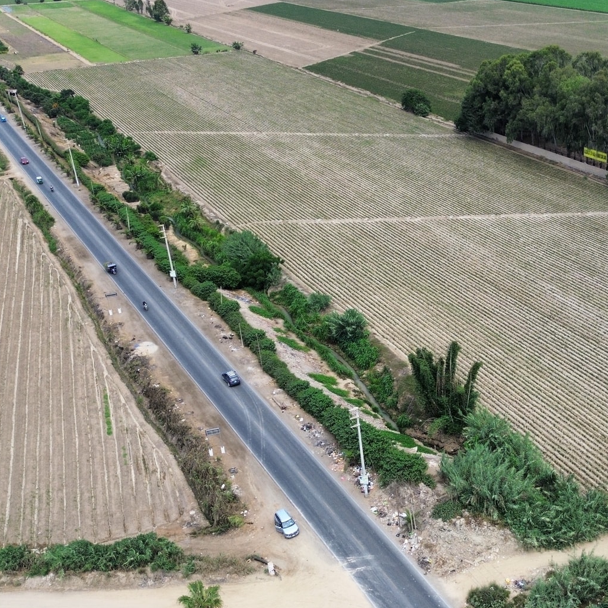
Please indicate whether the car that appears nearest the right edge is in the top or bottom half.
bottom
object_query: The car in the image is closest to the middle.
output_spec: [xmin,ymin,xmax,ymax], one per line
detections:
[223,371,242,386]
